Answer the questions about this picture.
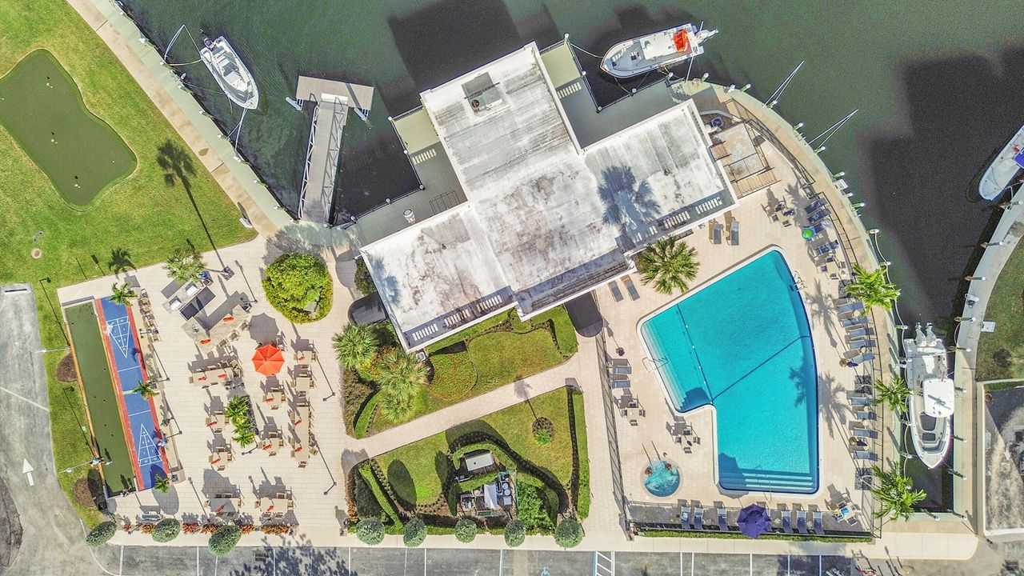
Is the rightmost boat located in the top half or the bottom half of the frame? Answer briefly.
top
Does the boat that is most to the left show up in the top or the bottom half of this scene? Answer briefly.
top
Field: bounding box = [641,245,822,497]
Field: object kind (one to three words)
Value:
swimming pool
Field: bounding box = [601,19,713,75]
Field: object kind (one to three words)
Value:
boat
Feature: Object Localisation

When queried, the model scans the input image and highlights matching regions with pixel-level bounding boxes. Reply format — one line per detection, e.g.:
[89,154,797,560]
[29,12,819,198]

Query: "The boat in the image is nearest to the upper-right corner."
[981,119,1024,201]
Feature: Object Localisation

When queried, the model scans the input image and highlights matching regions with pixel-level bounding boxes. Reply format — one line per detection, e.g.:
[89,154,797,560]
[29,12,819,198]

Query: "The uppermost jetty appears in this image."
[286,76,376,121]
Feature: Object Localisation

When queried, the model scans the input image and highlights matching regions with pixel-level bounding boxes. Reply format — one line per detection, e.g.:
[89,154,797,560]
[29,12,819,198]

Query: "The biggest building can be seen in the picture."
[359,43,738,353]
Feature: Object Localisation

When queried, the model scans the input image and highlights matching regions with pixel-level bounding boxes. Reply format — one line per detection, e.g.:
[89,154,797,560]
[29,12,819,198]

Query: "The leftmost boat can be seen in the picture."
[200,35,260,109]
